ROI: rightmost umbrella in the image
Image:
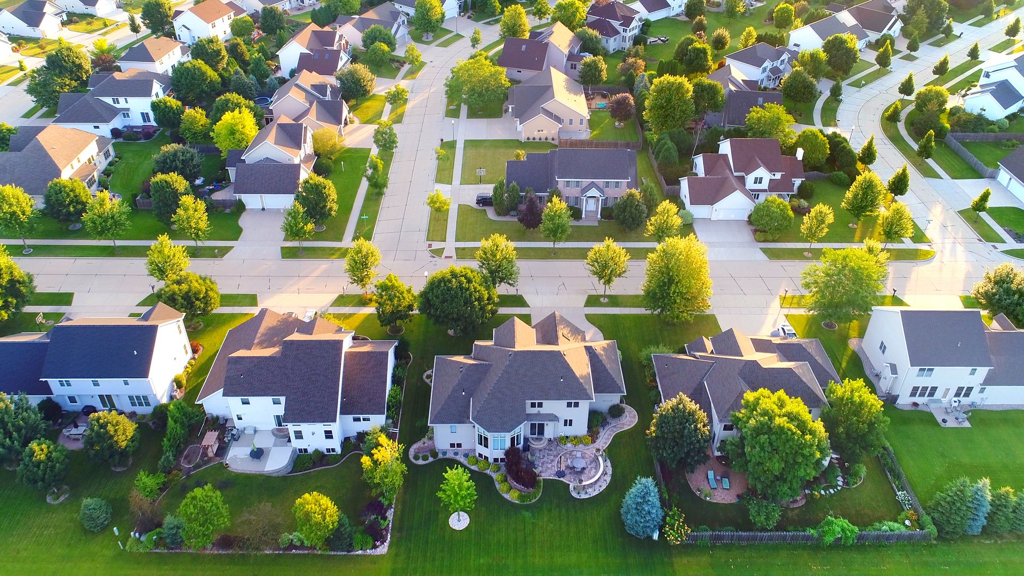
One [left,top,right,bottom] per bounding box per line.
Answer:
[555,455,567,478]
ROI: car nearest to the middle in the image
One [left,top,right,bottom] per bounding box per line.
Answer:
[471,193,499,207]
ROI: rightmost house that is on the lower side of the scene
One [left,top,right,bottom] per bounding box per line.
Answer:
[864,297,1024,403]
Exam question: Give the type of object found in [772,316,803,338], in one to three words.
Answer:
car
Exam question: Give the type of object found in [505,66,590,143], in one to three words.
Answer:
house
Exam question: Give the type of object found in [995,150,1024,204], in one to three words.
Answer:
house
